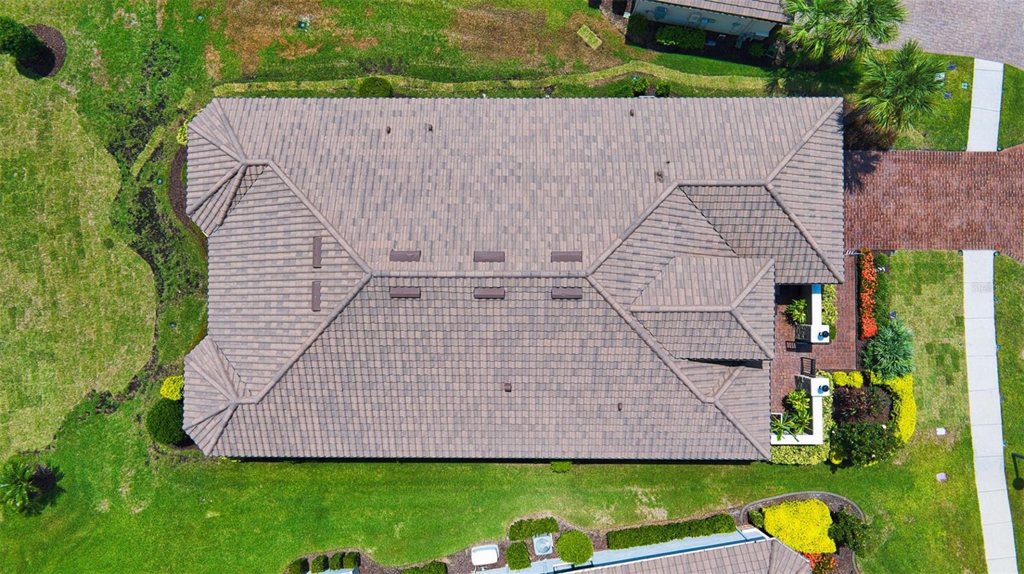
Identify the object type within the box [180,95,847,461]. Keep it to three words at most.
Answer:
house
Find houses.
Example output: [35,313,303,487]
[466,523,814,574]
[180,95,847,461]
[630,0,799,41]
